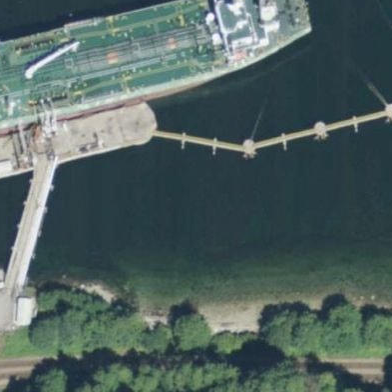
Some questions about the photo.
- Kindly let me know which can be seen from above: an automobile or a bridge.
bridge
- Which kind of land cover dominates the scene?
water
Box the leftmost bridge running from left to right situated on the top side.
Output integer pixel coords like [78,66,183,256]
[156,129,244,154]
